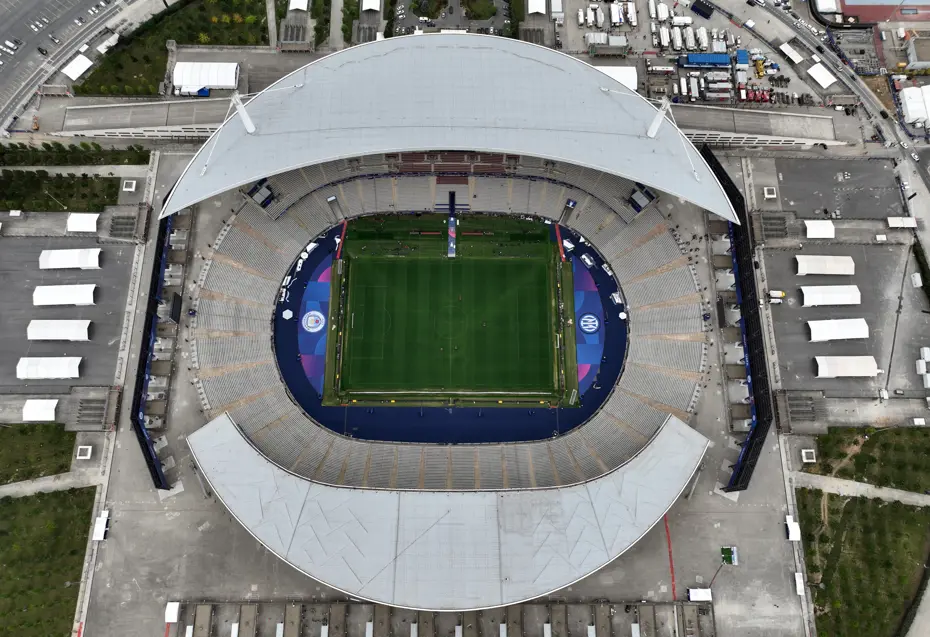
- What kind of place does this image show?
sports ground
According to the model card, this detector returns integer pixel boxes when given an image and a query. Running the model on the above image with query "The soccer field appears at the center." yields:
[322,212,580,407]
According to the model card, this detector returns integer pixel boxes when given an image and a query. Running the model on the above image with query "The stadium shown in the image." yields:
[158,32,740,612]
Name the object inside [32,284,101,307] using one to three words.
tent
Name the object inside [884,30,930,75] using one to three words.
building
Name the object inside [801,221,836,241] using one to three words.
tent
